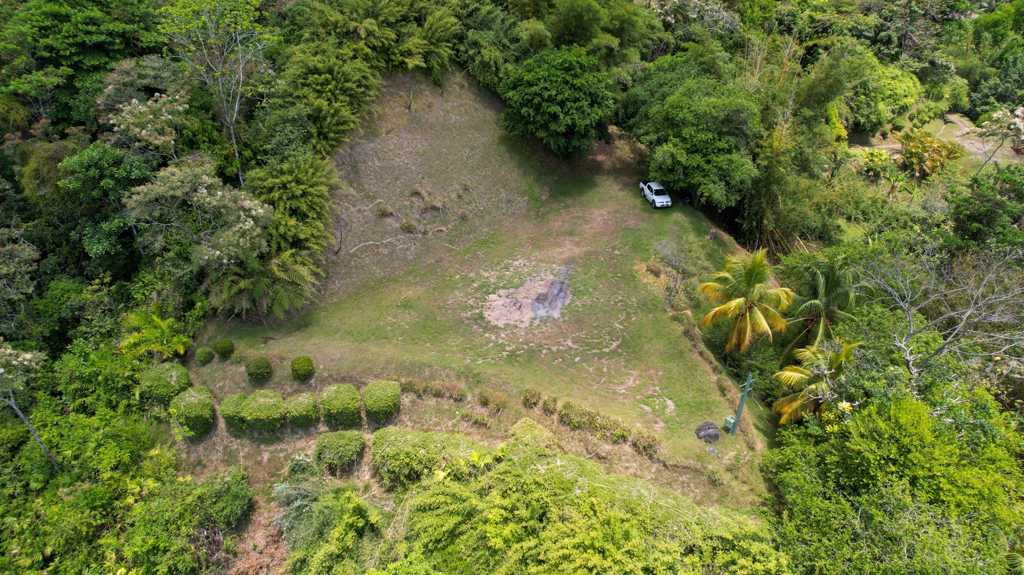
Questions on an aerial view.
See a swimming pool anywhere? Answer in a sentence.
No, the picture doesn't show any swimming pool.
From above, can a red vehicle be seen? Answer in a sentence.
No, there appears to be no red vehicle in this shot.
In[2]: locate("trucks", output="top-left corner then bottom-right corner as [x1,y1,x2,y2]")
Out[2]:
[638,181,673,209]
